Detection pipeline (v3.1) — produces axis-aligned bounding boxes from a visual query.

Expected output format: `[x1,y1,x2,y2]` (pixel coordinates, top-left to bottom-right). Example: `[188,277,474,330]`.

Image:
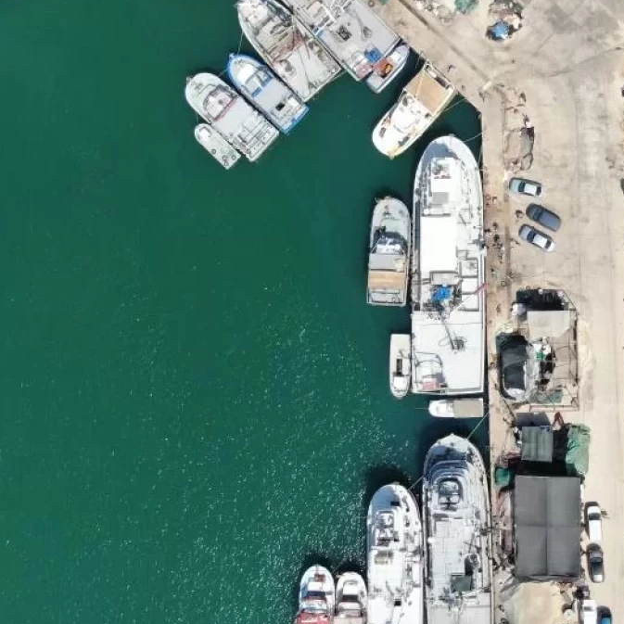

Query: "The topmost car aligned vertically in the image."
[586,505,604,545]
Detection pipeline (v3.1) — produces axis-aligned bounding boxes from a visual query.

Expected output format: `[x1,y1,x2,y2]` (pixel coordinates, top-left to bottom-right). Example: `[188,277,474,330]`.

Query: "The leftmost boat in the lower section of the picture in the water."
[298,563,334,624]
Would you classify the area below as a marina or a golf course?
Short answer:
marina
